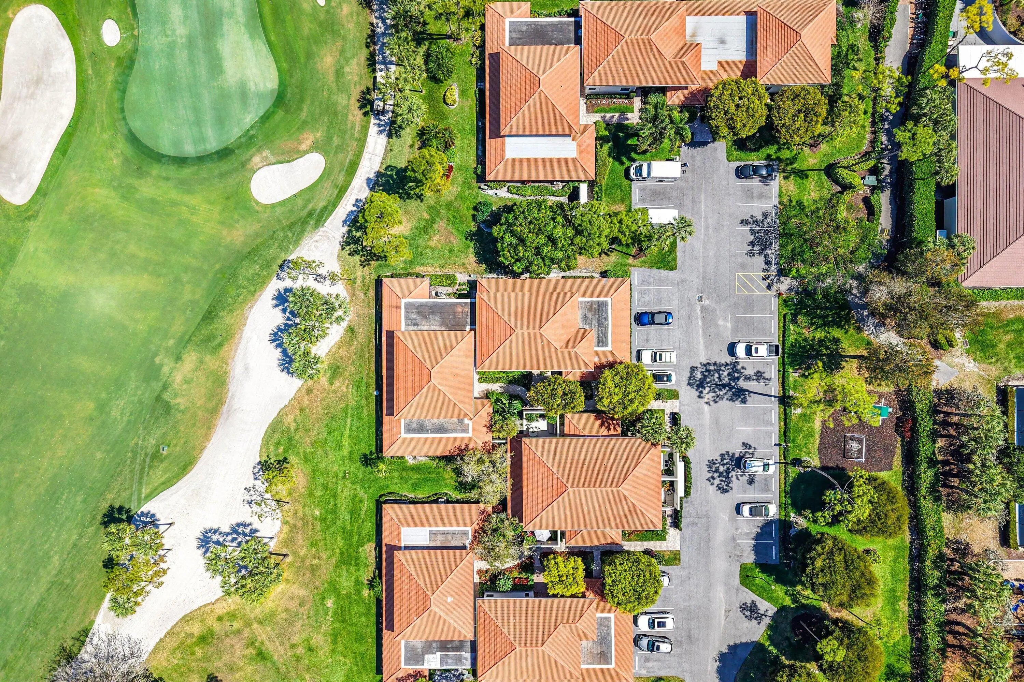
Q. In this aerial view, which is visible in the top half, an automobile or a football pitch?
automobile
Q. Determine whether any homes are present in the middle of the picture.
Yes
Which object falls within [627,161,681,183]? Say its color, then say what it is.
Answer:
white truck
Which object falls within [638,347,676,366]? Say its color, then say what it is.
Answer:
white car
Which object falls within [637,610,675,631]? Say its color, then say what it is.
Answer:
white car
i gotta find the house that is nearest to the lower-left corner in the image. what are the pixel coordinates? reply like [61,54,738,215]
[381,503,492,682]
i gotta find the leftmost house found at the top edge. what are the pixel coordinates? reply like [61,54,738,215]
[485,0,595,181]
